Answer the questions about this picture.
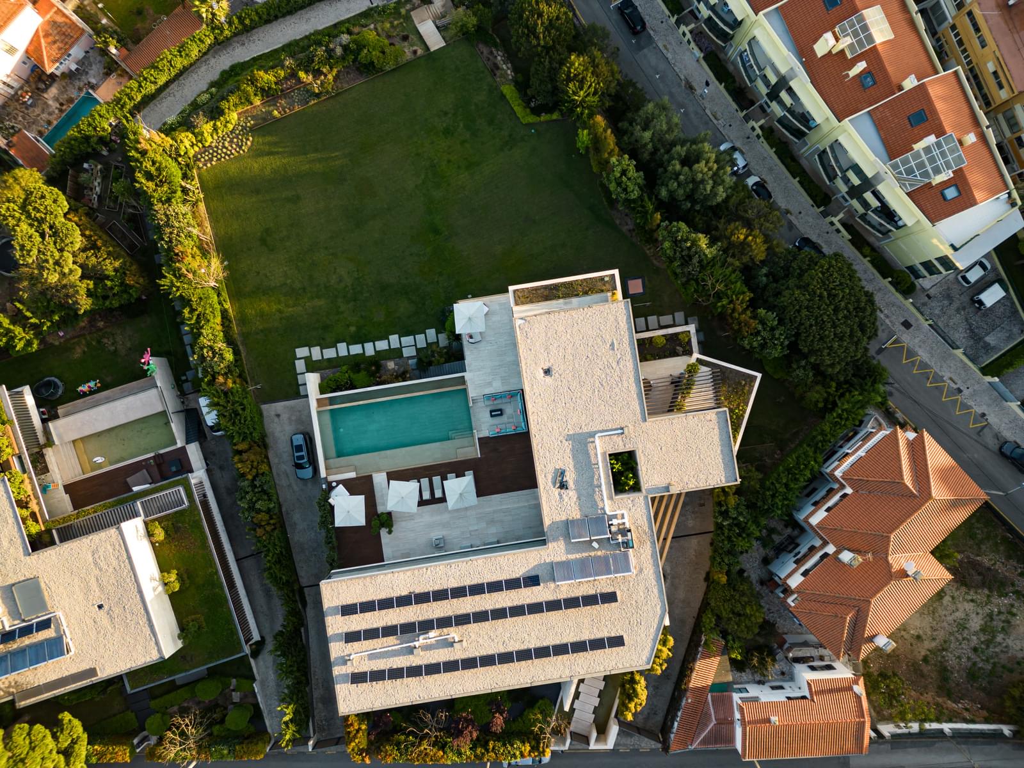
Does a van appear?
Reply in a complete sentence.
Yes, a van is visible in the scene.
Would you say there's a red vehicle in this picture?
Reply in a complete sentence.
No, no red vehicle can be seen from above.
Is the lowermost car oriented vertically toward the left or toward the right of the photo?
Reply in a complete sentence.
The lowermost car oriented vertically is on the left side of the image.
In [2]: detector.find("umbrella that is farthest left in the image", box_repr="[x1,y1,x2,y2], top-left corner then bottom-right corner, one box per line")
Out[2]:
[334,495,365,526]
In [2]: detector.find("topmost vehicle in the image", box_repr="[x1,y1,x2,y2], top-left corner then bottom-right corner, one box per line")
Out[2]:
[615,0,648,41]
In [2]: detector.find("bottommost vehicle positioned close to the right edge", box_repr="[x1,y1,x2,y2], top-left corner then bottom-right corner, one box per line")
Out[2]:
[993,437,1024,475]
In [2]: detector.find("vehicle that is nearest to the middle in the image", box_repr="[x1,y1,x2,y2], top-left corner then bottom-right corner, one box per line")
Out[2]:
[291,432,316,480]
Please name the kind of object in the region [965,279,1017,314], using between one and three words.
van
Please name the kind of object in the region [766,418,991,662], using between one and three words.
house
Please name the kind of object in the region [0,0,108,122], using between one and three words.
house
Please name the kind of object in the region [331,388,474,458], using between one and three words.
swimming pool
